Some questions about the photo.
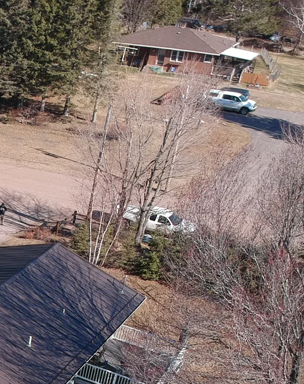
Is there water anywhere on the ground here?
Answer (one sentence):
No, no water is visible.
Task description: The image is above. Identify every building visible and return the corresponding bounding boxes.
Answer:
[0,241,190,384]
[112,26,268,86]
